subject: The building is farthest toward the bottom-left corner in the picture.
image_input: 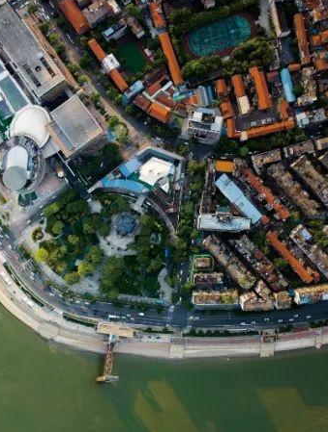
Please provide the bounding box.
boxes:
[96,323,134,336]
